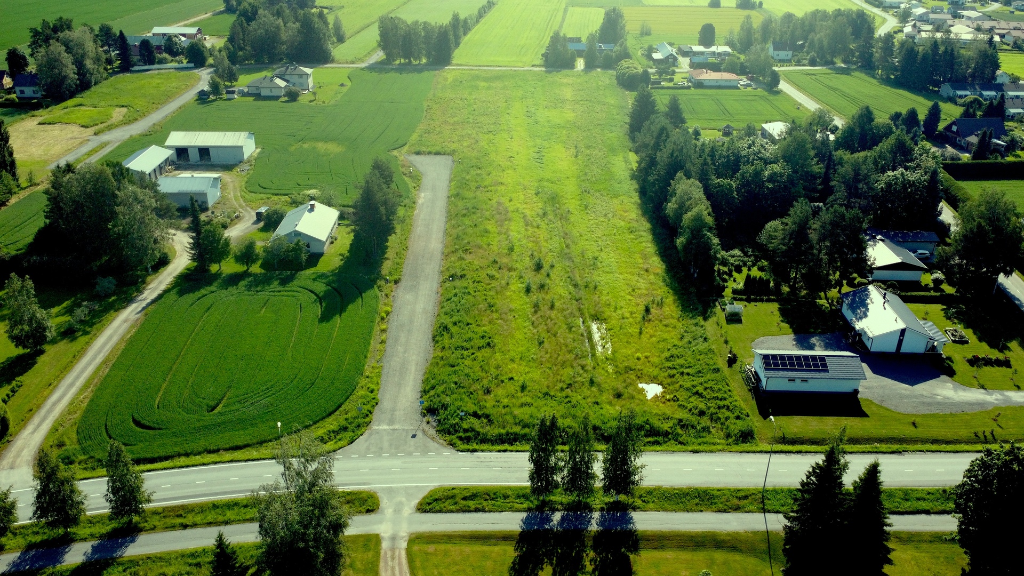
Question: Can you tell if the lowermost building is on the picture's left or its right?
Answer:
right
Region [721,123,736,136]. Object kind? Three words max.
gazebo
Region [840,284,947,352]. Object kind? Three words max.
house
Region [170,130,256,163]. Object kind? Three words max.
barn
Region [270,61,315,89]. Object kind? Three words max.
house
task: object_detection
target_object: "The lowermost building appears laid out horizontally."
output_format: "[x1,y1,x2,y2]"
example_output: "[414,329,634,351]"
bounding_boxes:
[752,348,867,393]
